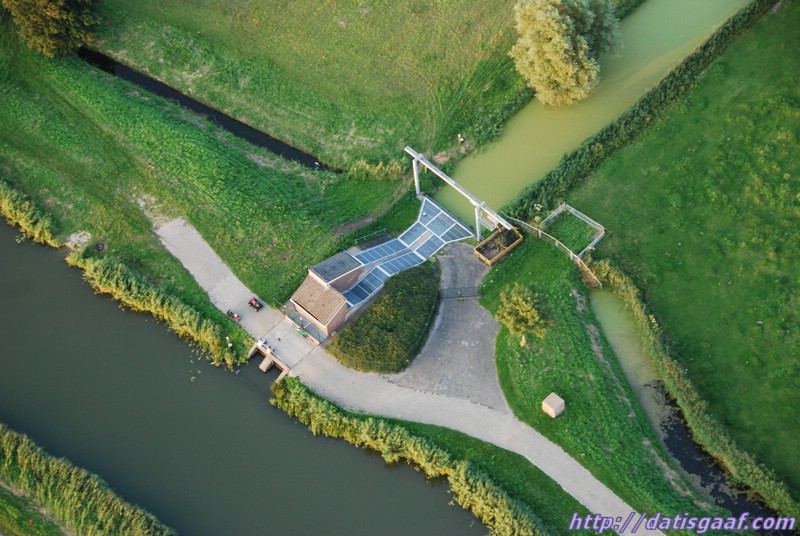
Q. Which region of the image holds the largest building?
center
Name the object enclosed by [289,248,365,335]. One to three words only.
building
